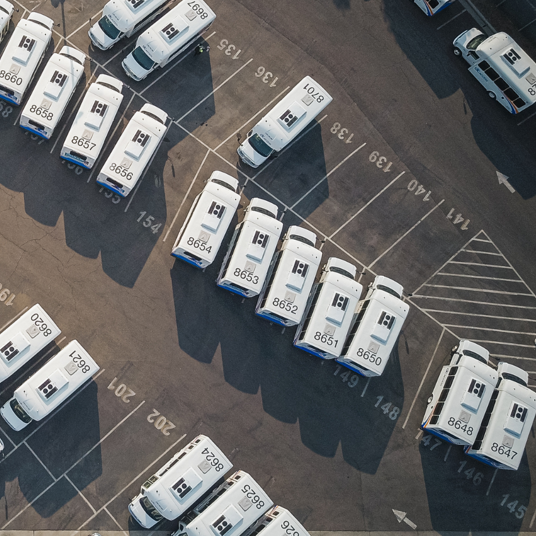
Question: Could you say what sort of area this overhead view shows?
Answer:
parking lot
